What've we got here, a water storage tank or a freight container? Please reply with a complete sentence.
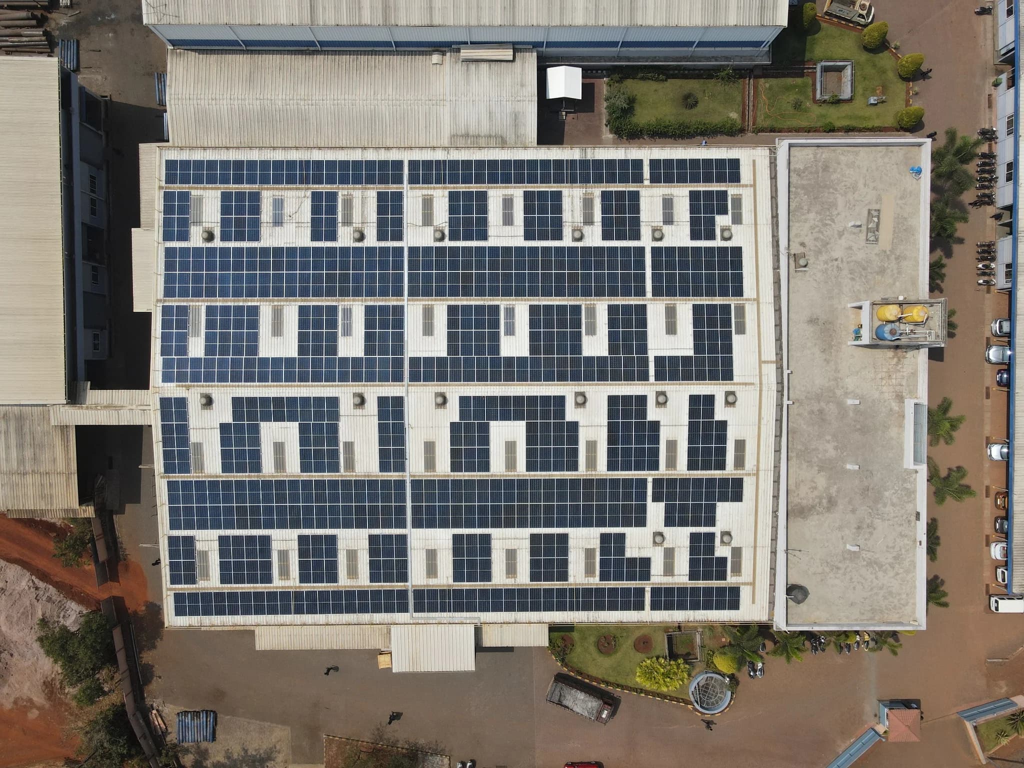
The image shows a water storage tank.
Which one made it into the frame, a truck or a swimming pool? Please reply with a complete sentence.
It is a truck that can be seen here.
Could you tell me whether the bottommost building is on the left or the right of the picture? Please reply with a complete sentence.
The bottommost building appears in the right half of the scene.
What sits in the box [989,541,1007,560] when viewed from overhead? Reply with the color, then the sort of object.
white car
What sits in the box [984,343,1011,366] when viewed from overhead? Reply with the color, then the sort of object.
gray car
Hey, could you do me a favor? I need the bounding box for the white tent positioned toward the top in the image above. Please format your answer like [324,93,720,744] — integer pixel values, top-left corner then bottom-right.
[546,63,581,109]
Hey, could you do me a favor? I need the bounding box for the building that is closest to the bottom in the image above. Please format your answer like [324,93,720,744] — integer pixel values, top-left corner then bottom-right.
[876,699,922,748]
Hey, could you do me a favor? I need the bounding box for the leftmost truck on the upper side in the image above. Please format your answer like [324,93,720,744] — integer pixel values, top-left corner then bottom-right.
[826,0,875,26]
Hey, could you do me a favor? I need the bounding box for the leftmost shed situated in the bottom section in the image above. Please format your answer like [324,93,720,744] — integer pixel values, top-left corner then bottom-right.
[0,407,120,518]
